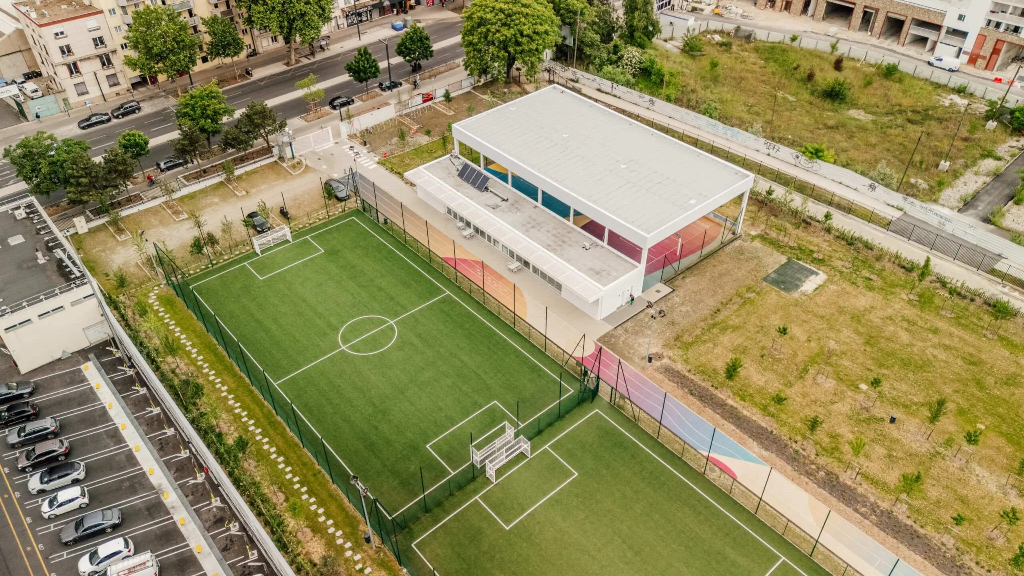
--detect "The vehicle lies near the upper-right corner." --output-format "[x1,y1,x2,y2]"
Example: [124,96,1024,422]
[927,57,963,74]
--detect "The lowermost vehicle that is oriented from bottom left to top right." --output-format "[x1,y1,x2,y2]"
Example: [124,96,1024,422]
[73,530,140,576]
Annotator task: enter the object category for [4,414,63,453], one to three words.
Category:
car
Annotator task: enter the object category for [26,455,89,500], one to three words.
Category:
car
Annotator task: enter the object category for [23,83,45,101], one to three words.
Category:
vehicle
